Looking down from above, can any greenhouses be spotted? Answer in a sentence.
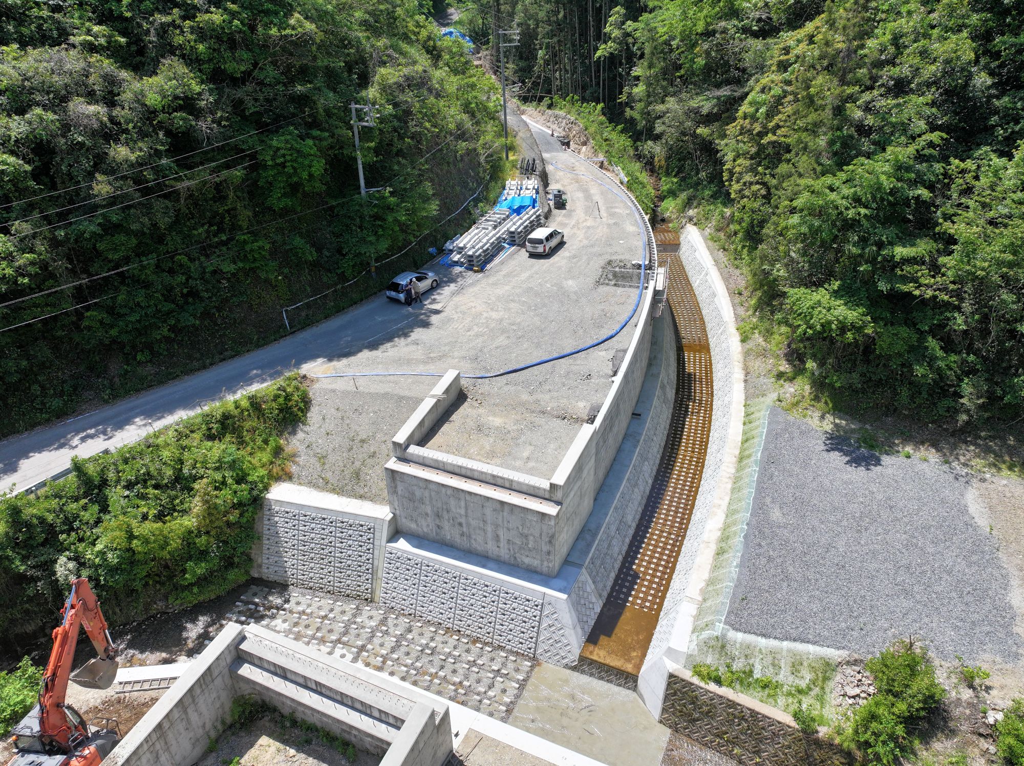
No, there's no greenhouse here.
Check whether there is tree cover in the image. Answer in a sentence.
Yes, tree cover shows up in the scene.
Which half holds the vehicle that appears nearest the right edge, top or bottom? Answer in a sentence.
The vehicle that appears nearest the right edge sits in the top half of the picture.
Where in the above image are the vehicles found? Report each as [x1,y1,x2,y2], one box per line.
[524,224,567,255]
[383,268,439,303]
[0,582,129,766]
